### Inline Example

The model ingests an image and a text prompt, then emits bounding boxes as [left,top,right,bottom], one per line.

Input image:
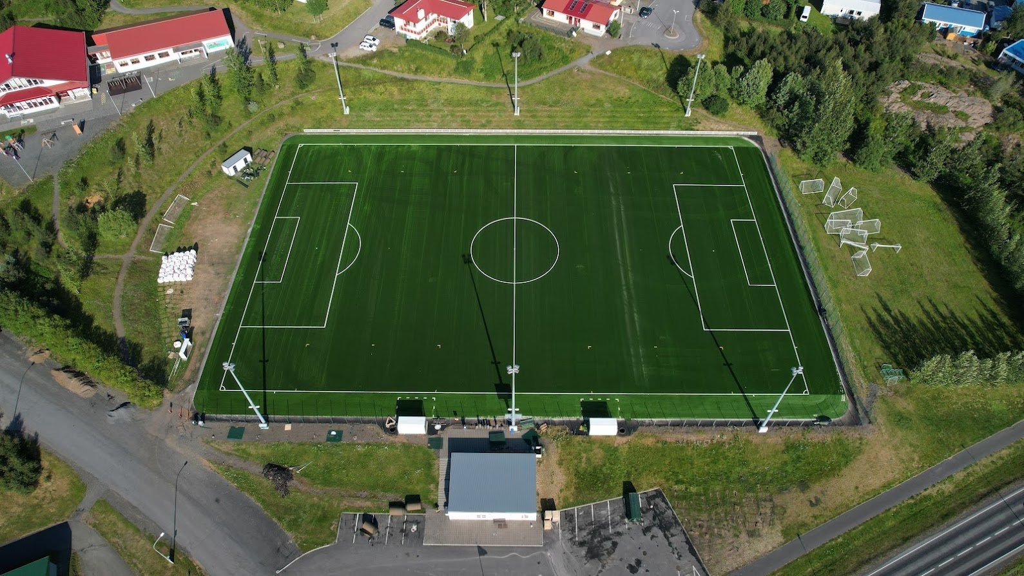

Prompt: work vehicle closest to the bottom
[177,318,194,344]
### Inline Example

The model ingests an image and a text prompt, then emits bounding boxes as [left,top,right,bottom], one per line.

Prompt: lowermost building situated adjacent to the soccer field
[447,452,537,519]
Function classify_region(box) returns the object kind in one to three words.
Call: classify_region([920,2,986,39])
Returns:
house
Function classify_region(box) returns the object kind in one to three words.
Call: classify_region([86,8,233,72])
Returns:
building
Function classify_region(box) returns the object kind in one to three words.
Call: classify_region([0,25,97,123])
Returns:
building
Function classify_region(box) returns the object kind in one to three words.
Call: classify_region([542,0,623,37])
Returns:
house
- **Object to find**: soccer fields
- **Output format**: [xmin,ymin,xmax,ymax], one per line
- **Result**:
[190,134,866,436]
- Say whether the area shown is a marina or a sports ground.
sports ground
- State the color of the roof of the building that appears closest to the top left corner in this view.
red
